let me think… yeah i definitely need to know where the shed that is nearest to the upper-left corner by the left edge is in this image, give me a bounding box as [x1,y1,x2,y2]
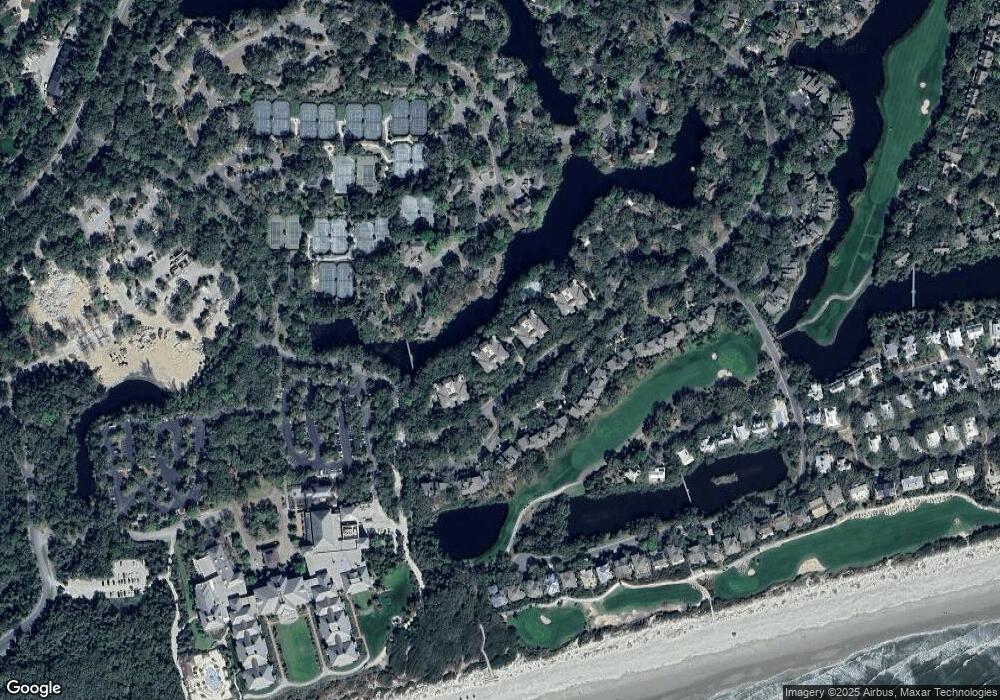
[47,41,75,97]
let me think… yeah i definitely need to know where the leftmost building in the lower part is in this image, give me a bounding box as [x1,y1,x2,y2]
[191,484,369,693]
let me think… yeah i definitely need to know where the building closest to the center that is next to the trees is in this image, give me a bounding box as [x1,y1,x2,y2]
[475,336,508,369]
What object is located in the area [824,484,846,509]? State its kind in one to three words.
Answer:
house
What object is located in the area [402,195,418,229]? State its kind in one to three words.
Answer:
tennis court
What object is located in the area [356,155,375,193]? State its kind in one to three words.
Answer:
tennis court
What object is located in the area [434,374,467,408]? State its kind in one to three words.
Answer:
house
